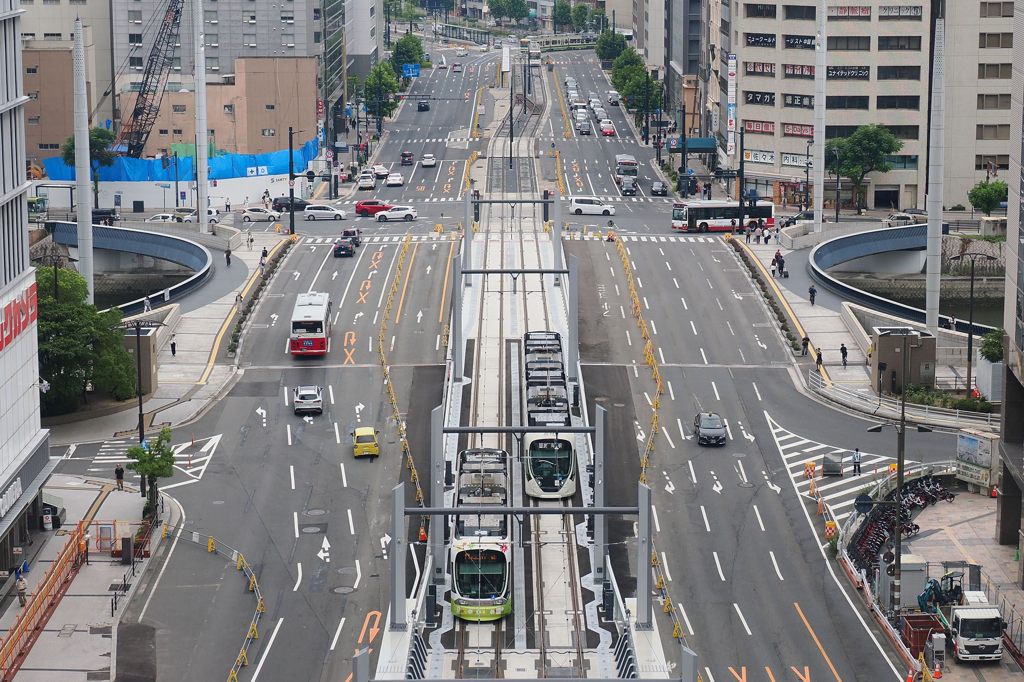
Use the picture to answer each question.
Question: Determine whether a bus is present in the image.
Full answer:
Yes, the picture does show a bus.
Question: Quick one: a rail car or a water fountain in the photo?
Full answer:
The image shows a rail car.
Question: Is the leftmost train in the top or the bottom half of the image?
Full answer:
You can find the leftmost train in the bottom half.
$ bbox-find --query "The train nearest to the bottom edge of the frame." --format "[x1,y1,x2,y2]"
[450,453,511,618]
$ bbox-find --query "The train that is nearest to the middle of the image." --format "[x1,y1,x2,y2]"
[522,332,575,496]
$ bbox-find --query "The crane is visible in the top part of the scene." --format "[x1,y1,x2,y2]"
[85,0,194,160]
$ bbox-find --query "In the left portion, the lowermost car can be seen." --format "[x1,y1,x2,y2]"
[353,426,385,459]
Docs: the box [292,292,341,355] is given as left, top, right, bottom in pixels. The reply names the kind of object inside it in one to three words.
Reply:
bus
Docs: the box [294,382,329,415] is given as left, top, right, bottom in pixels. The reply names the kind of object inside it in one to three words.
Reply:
car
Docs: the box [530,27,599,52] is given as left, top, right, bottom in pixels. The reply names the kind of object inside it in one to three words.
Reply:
rail car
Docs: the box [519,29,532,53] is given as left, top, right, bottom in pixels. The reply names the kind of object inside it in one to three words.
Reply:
rail car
